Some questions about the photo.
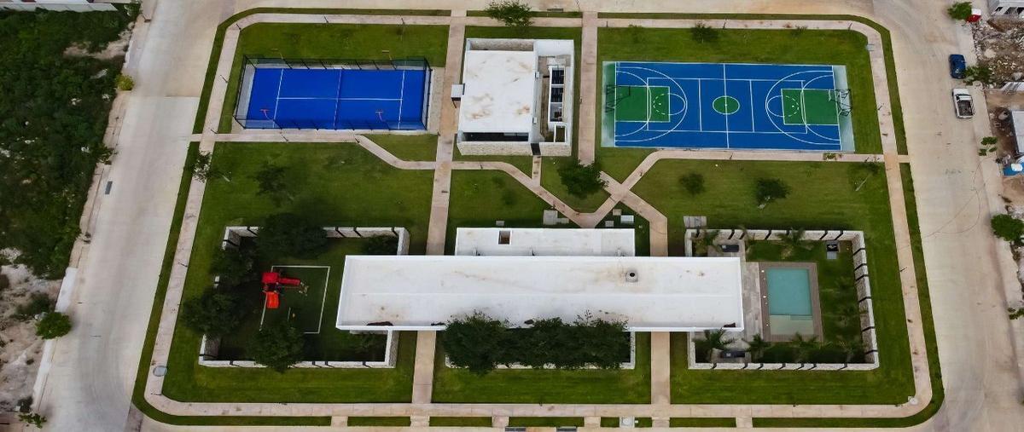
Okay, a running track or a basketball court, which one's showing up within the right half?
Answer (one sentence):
The one visible within the right half is a basketball court.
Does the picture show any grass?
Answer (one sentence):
Yes, the picture does contain grass.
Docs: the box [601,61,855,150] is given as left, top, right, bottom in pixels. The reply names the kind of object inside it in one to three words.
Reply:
basketball court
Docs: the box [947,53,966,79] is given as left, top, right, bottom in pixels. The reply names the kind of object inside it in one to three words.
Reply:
car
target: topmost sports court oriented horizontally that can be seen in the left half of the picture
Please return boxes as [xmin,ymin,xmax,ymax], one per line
[230,56,446,137]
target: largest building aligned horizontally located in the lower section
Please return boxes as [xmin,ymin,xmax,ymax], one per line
[336,226,745,340]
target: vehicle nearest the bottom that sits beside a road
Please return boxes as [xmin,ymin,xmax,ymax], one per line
[954,86,975,119]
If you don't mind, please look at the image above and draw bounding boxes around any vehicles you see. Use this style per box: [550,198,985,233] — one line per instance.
[954,86,975,119]
[947,53,966,79]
